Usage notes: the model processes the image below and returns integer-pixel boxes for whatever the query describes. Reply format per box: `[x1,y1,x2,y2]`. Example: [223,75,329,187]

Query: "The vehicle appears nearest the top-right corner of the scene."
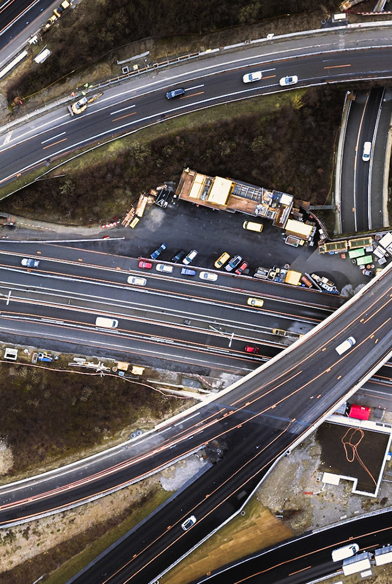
[278,74,298,87]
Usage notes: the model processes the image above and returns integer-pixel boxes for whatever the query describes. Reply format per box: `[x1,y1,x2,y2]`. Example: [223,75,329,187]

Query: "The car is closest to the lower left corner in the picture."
[181,515,197,532]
